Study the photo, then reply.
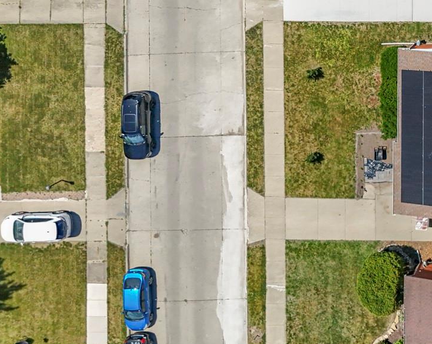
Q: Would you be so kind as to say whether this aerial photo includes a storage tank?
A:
No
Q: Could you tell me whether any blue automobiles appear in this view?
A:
Yes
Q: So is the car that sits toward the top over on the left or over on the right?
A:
left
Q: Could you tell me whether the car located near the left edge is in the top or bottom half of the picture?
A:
bottom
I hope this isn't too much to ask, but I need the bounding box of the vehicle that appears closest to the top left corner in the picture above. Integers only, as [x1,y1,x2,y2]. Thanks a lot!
[118,88,158,158]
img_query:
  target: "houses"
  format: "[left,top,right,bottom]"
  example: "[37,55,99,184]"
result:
[404,251,432,344]
[382,42,432,231]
